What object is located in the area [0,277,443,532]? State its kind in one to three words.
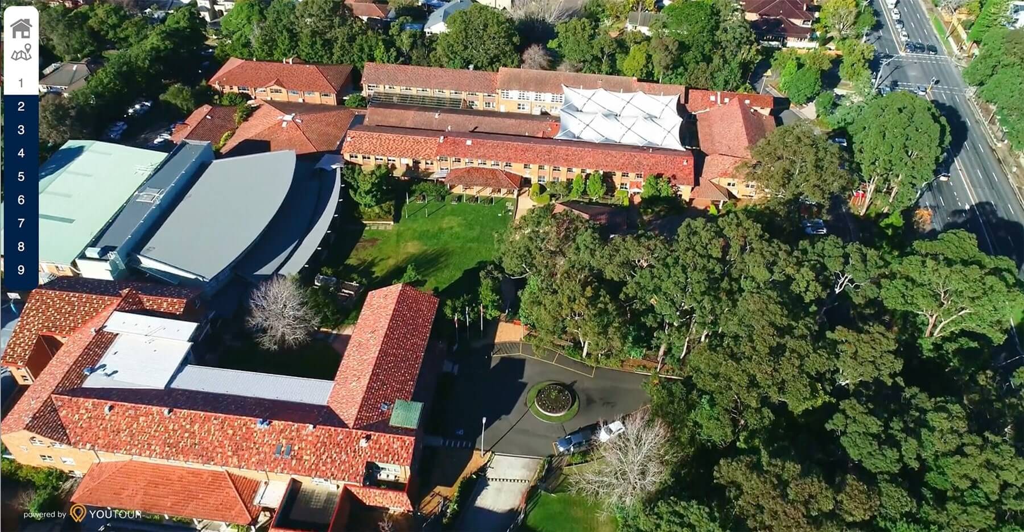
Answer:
building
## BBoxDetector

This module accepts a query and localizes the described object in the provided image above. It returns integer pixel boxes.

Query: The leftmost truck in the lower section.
[557,423,594,448]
